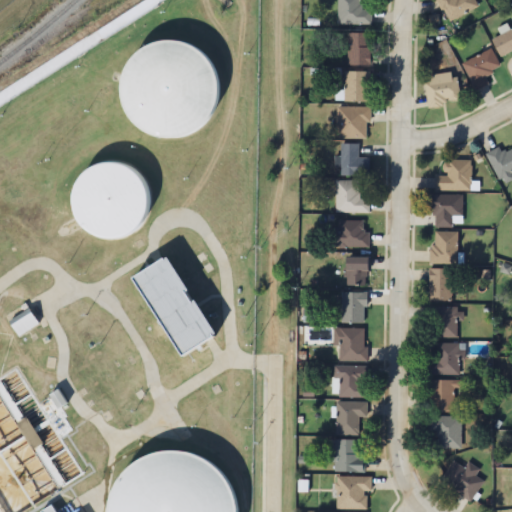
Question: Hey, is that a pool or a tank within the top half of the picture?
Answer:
tank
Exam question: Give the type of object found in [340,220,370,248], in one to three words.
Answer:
house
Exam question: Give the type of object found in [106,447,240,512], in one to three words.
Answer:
storage tank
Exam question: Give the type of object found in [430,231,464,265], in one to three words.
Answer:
house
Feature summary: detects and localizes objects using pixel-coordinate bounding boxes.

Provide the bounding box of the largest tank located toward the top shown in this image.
[120,38,221,138]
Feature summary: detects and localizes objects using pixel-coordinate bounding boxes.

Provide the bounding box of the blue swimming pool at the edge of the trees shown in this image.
[468,341,491,358]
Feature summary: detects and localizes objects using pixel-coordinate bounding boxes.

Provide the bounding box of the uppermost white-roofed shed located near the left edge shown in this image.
[10,308,41,337]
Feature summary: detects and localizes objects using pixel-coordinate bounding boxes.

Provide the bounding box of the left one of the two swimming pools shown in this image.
[304,326,334,346]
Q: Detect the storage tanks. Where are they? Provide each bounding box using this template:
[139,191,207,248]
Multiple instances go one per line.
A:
[106,447,240,512]
[71,160,152,240]
[120,38,221,138]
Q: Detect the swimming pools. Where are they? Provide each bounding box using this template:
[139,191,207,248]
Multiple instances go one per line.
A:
[304,326,334,346]
[468,341,491,358]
